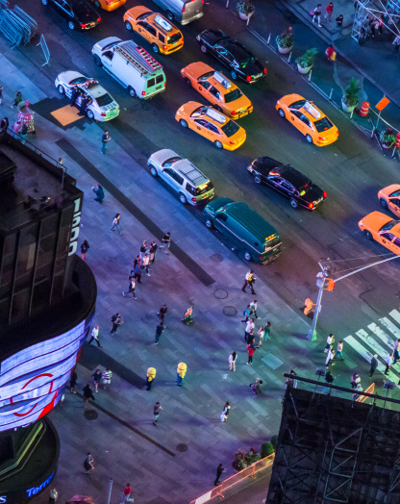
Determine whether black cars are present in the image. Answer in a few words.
Yes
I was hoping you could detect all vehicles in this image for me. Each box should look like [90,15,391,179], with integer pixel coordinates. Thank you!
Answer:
[201,198,289,271]
[245,158,331,219]
[178,64,257,125]
[269,96,345,152]
[144,151,221,214]
[374,186,400,227]
[152,0,206,22]
[192,30,273,89]
[83,0,130,18]
[120,7,187,59]
[51,71,125,129]
[355,216,400,267]
[88,37,171,105]
[38,0,107,40]
[170,104,252,158]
